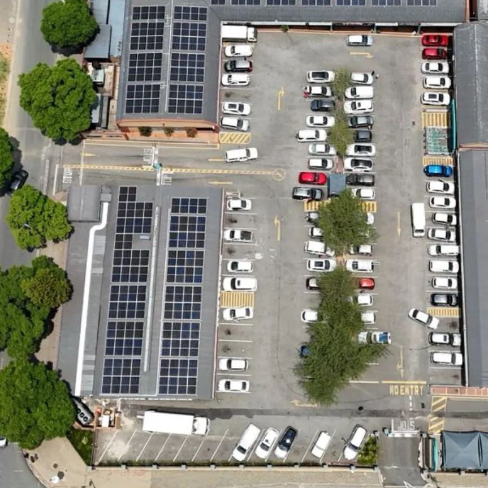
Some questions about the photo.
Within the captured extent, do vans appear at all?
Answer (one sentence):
Yes, a van appears in the view.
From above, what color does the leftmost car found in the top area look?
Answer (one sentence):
In this view, the leftmost car found in the top area is black.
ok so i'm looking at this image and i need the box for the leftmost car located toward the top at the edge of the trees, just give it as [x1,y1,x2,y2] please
[4,167,27,195]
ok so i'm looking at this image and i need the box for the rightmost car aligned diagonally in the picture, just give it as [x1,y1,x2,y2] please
[407,306,440,331]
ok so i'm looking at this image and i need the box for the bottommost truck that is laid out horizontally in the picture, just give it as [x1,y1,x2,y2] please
[138,415,211,437]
